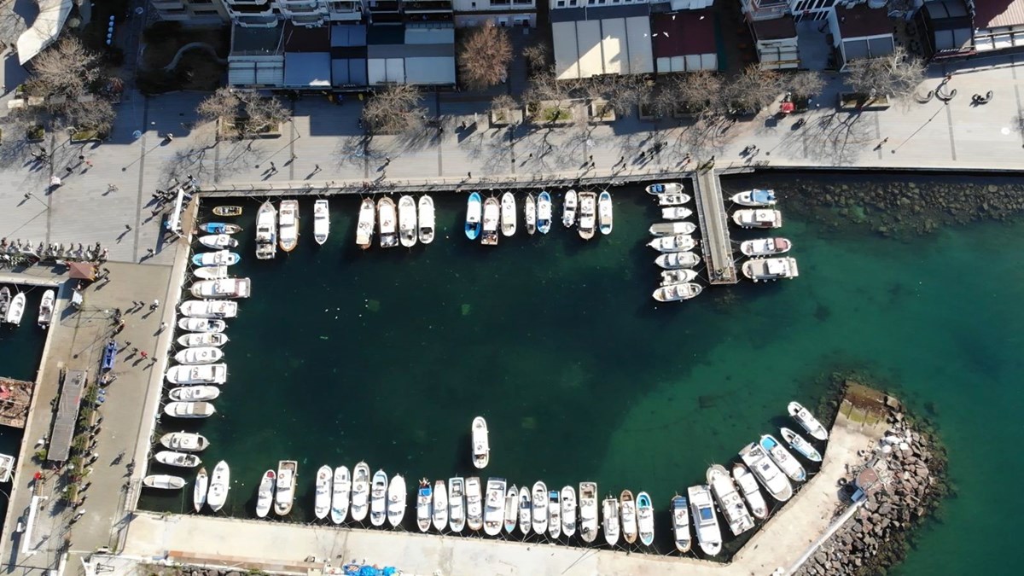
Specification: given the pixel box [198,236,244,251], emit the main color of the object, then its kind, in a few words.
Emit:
white boat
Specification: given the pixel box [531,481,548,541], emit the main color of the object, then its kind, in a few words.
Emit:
white boat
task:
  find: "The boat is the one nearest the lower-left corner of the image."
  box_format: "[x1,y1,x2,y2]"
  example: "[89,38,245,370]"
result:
[0,451,20,481]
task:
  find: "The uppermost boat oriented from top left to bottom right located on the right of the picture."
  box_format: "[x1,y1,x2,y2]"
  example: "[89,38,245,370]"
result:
[788,402,833,445]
